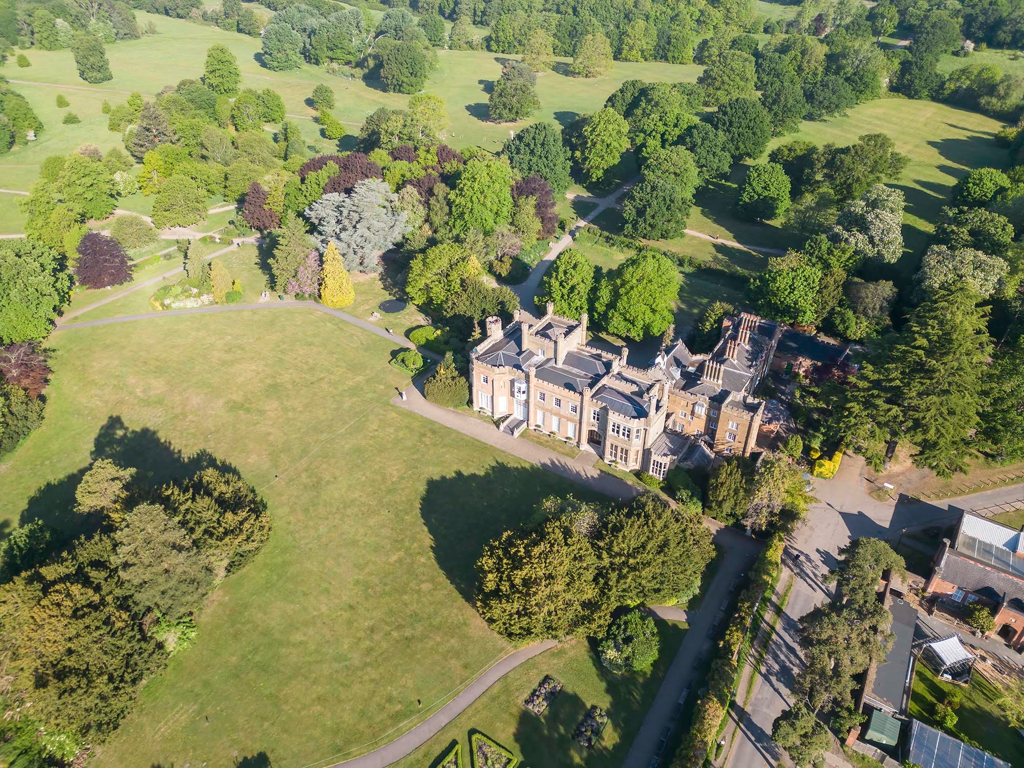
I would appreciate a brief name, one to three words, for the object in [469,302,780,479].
house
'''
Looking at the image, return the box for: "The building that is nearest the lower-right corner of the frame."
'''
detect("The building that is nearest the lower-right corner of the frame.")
[902,719,1020,768]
